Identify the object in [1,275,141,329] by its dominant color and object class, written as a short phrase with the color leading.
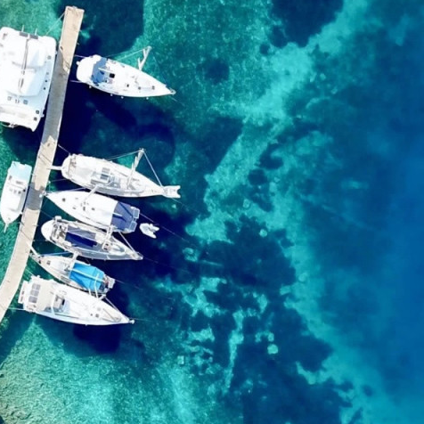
white boat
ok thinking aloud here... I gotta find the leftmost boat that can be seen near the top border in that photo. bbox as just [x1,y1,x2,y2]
[0,13,65,138]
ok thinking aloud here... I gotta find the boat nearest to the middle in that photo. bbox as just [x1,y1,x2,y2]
[164,186,180,198]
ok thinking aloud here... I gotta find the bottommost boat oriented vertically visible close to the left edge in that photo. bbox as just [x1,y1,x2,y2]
[1,161,36,233]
